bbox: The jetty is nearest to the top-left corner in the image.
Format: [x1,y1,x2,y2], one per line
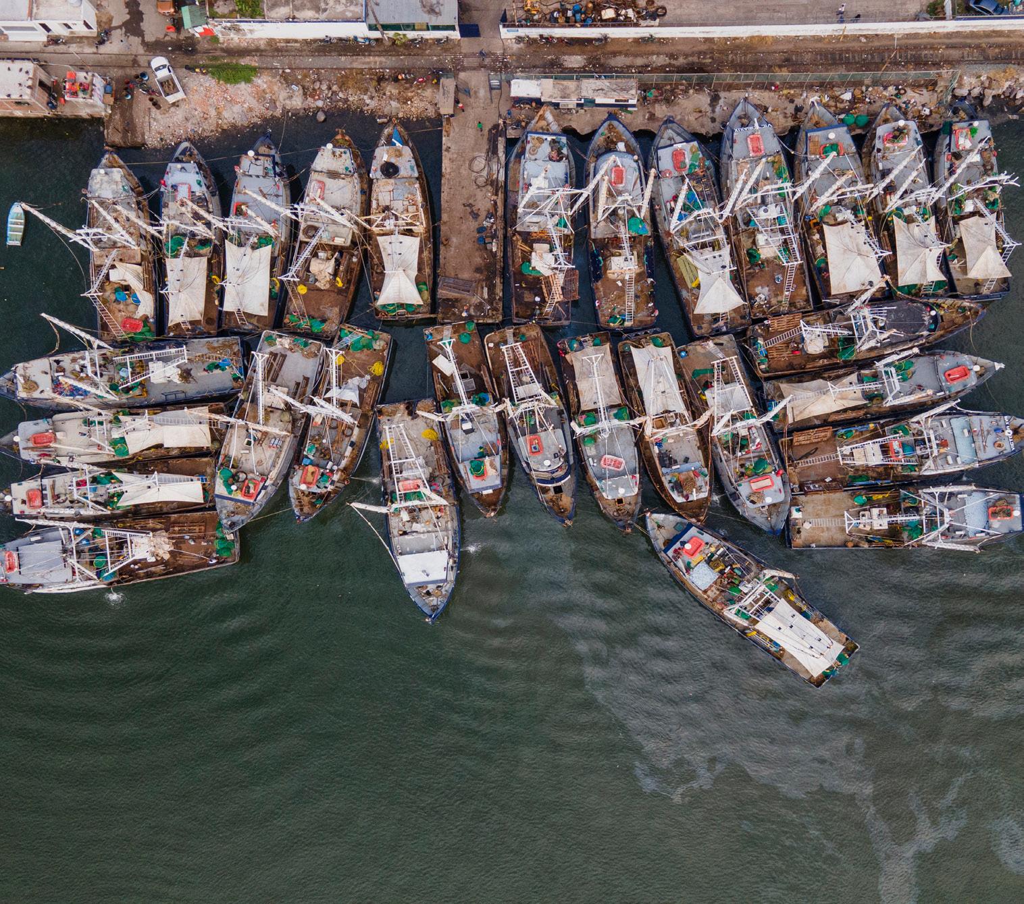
[437,101,505,325]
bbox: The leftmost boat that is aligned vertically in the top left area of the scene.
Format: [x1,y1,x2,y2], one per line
[7,202,26,247]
